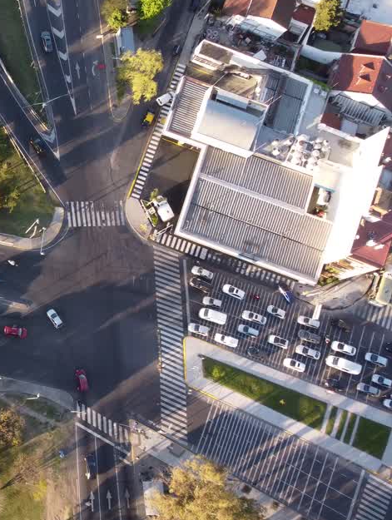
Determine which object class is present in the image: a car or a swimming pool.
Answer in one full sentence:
The image shows a car.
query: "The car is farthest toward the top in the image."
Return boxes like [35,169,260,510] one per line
[188,0,202,16]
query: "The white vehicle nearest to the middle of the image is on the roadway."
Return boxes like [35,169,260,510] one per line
[190,264,215,280]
